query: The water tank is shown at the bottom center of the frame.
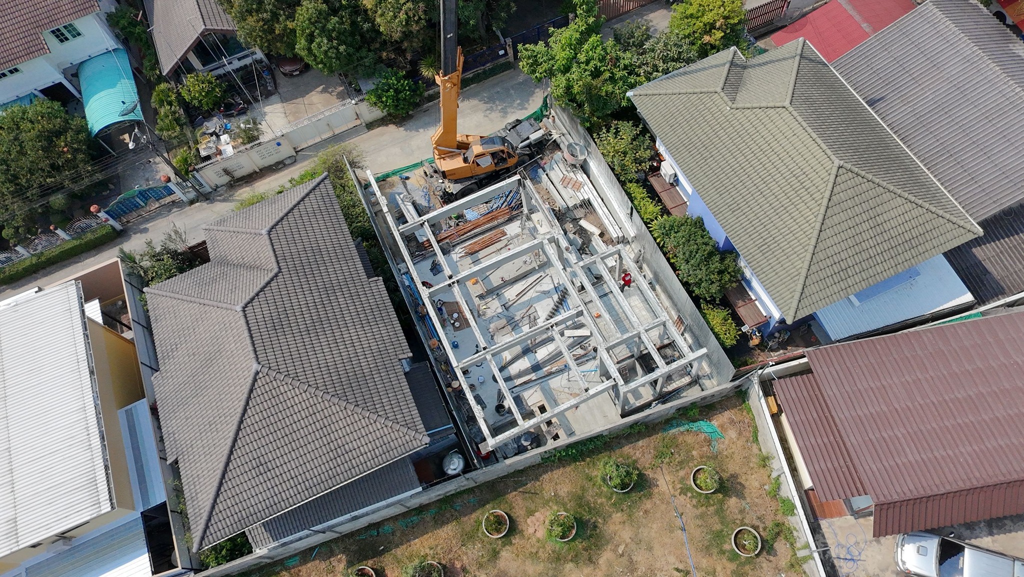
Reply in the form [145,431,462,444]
[435,448,464,479]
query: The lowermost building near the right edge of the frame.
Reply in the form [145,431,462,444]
[774,300,1024,538]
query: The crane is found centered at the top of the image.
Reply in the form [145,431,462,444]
[428,0,563,214]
